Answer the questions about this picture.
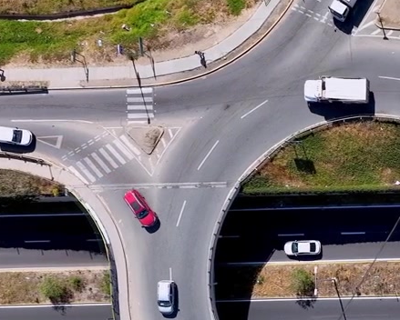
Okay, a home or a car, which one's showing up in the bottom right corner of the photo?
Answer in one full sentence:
The one visible in the bottom right corner of the photo is a car.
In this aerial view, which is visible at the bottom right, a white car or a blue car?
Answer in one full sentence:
You can see a white car at the bottom right.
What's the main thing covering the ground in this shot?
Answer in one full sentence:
Most of the picture is covered by paved ground.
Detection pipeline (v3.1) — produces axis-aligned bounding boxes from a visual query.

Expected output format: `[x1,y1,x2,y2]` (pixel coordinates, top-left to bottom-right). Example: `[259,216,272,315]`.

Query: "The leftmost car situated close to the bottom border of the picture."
[158,281,178,314]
